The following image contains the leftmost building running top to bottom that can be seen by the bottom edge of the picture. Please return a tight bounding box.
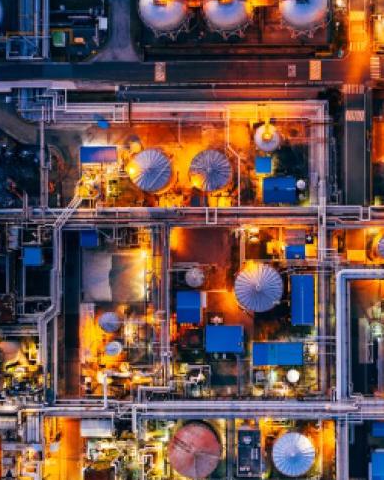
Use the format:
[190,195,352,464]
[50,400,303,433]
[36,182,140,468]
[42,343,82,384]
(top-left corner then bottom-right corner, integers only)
[238,427,260,478]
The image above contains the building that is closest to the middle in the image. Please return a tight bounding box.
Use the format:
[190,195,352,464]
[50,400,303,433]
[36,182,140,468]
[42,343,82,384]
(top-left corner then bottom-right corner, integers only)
[176,290,200,324]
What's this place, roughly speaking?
industrial area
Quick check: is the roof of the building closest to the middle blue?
Yes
